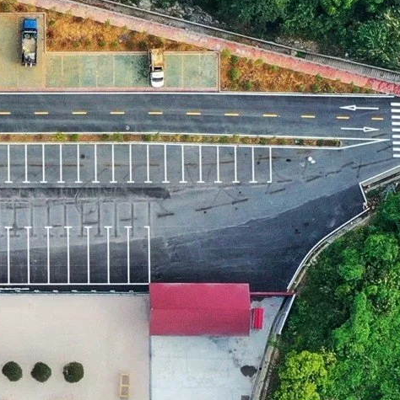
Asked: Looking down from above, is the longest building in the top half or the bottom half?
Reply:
bottom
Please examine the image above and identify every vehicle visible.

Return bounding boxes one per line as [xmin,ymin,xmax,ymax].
[151,46,167,86]
[24,17,40,64]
